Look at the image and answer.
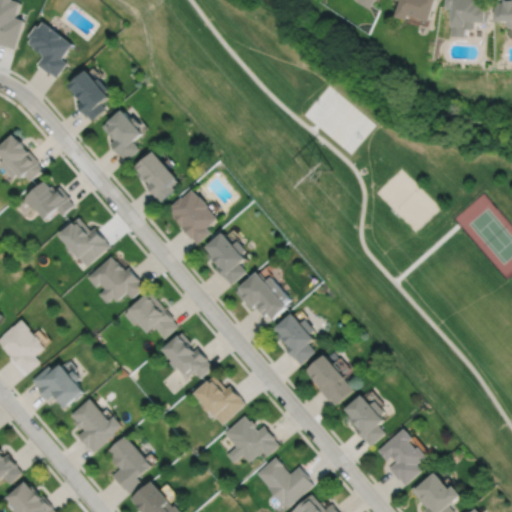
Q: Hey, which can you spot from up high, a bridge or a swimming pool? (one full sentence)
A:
This aerial view contains a swimming pool.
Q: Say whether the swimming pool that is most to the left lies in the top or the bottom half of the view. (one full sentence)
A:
Seen from above, the swimming pool that is most to the left lies in the top half of the view.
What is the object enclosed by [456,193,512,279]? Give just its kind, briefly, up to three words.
tennis court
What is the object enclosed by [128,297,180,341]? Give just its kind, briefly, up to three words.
house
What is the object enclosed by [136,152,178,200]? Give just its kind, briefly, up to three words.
house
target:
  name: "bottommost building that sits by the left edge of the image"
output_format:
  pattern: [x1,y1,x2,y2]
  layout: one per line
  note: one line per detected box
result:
[6,483,55,512]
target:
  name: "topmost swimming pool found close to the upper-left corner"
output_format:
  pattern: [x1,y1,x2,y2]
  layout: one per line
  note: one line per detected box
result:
[62,4,100,41]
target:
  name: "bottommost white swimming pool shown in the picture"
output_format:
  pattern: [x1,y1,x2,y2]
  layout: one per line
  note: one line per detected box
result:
[201,172,240,213]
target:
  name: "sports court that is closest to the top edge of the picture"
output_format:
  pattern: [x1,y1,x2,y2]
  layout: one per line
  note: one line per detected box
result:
[306,86,376,155]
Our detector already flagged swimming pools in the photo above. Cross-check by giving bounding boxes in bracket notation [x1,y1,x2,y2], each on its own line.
[442,8,494,65]
[498,39,512,68]
[62,4,100,41]
[201,172,240,213]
